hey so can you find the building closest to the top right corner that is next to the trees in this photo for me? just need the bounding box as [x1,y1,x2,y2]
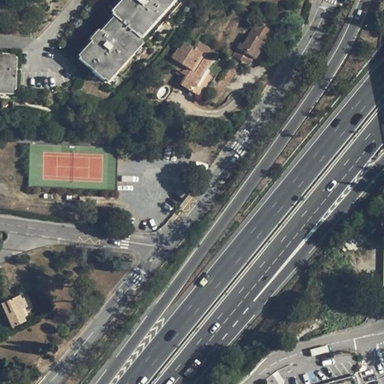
[236,20,272,60]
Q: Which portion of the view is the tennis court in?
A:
left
